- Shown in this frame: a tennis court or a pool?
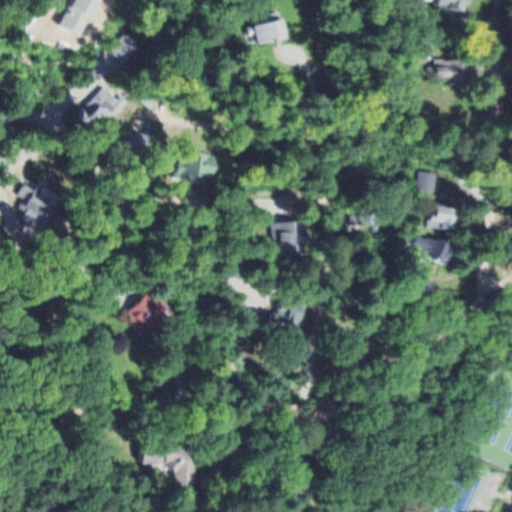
tennis court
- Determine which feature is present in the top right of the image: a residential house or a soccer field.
residential house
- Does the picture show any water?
No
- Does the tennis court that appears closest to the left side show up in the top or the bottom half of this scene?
bottom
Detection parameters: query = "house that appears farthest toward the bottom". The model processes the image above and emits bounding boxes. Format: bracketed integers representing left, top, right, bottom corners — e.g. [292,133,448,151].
[143,449,200,486]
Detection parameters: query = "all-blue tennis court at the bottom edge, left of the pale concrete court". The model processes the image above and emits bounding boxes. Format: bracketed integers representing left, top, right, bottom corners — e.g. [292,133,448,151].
[444,474,484,512]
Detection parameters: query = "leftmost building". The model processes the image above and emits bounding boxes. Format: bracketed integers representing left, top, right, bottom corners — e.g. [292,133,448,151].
[15,182,50,233]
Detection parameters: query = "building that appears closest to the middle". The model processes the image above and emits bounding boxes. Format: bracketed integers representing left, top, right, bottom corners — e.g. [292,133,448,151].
[271,222,302,252]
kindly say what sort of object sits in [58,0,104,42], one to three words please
house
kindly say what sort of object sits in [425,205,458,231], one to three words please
house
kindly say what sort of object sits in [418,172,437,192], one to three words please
building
